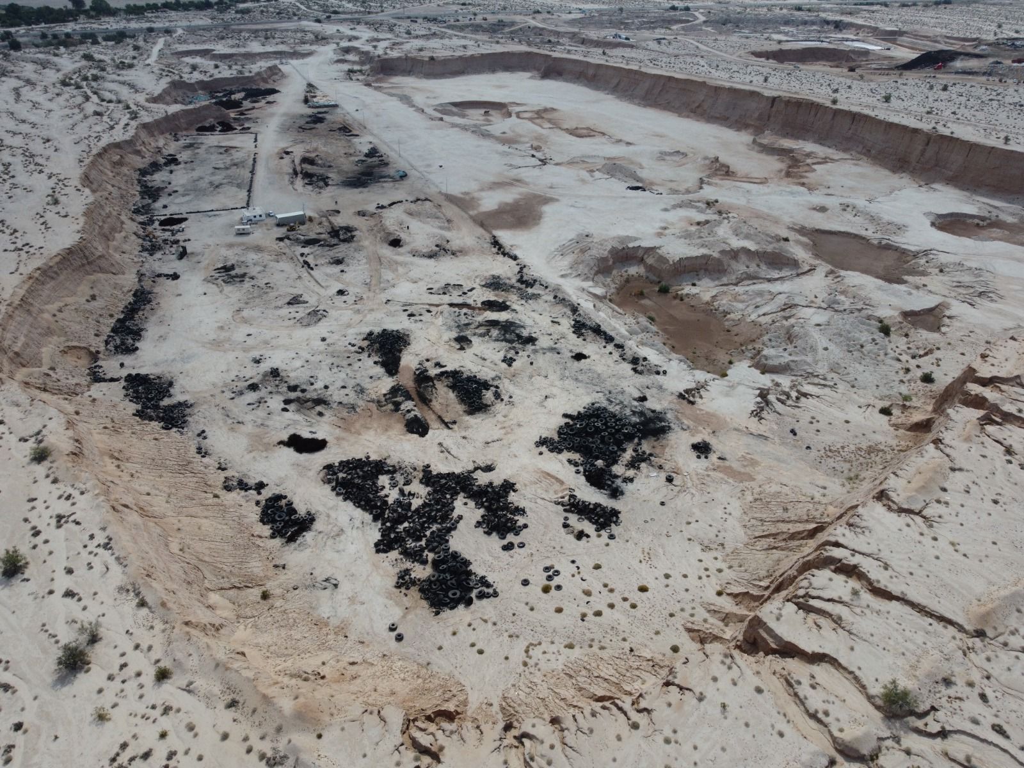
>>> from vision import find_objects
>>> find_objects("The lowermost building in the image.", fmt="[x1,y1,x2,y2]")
[239,208,265,224]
